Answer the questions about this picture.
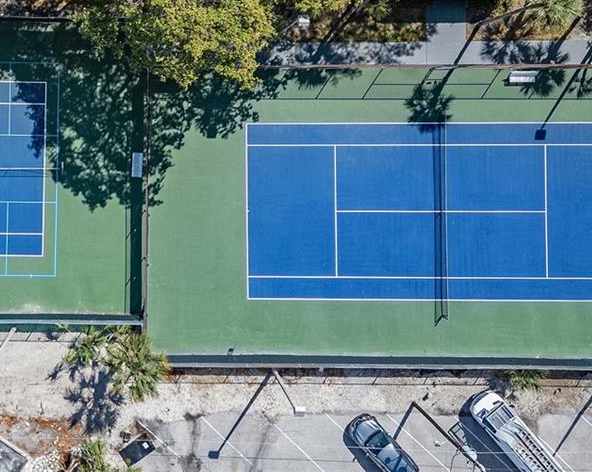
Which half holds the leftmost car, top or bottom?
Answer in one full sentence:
The leftmost car is in the bottom half of the image.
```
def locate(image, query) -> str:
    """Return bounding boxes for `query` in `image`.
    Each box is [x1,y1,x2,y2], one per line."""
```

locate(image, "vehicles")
[347,412,413,472]
[470,389,560,472]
